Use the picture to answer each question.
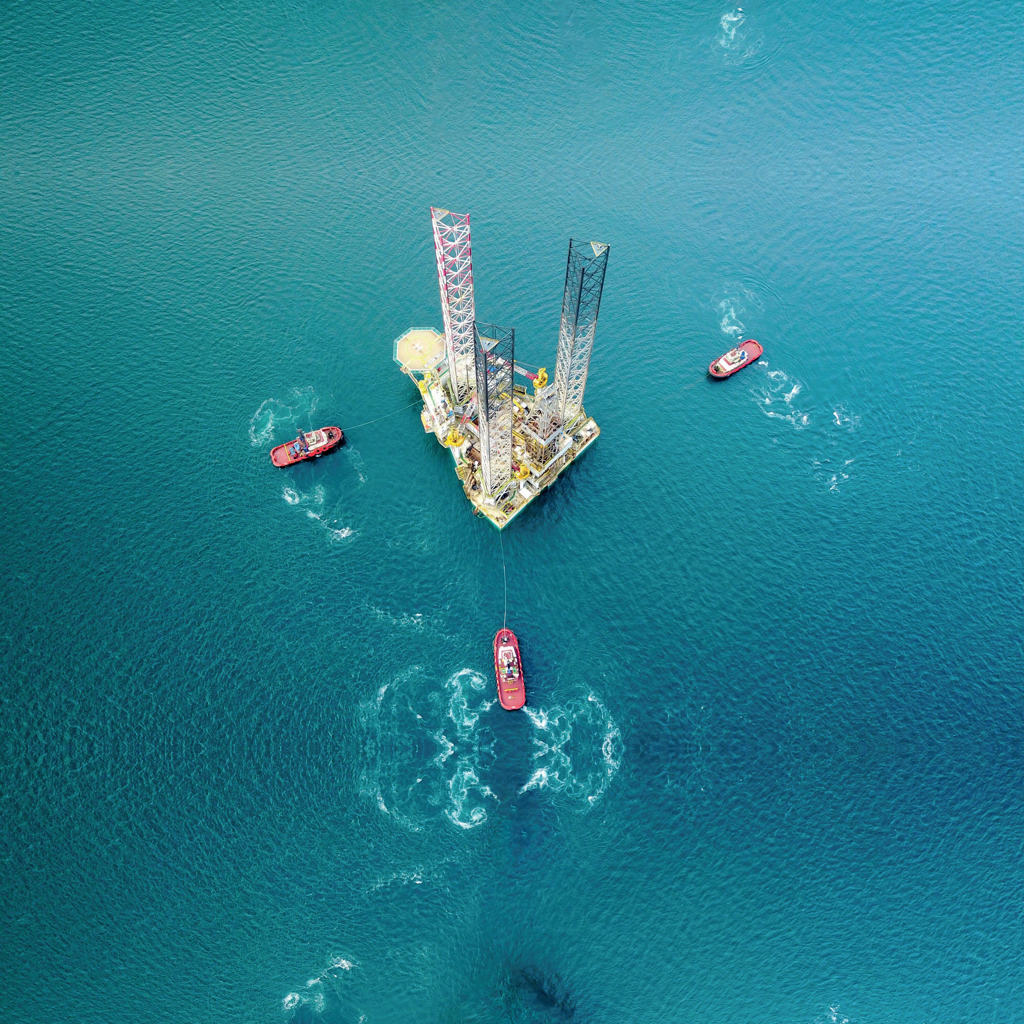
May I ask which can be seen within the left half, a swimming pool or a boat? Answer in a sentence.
Visible within the left half is a boat.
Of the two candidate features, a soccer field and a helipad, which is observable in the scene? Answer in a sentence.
The one in the frame is a helipad.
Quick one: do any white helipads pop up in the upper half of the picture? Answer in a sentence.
Yes, in the upper half of the picture there is a white helipad.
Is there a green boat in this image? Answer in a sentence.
No, this view has no green boat in it.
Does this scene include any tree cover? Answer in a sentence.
No, no tree cover is visible.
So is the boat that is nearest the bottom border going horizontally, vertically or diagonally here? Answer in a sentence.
The boat that is nearest the bottom border is laid out vertically.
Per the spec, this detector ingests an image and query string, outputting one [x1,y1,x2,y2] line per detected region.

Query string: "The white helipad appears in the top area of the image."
[393,327,449,386]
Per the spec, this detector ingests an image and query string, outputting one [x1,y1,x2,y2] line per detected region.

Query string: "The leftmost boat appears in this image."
[270,427,344,467]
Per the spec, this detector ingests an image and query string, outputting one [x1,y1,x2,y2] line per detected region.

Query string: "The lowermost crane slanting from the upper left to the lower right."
[476,427,532,492]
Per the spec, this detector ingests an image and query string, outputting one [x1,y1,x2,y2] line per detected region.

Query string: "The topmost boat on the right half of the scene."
[708,340,765,376]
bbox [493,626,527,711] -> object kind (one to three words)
boat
